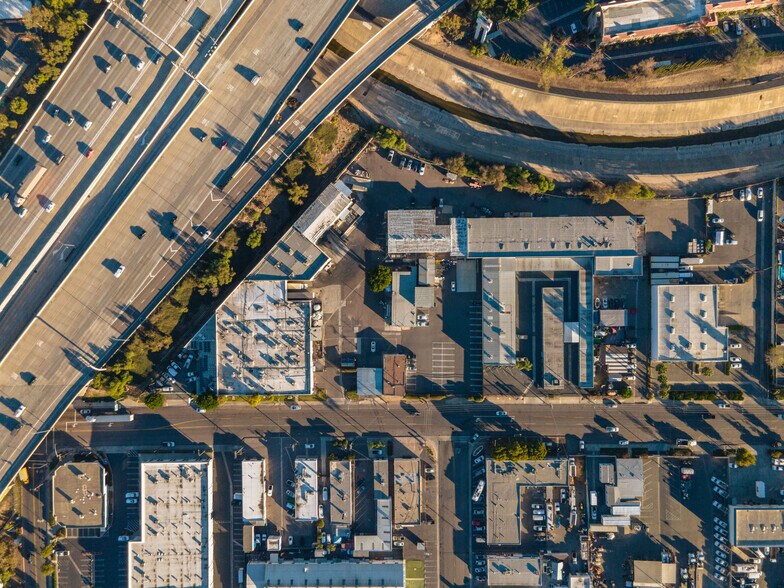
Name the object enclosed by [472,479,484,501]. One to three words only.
vehicle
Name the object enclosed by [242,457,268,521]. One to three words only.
building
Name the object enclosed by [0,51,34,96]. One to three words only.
house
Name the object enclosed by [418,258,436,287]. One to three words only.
shed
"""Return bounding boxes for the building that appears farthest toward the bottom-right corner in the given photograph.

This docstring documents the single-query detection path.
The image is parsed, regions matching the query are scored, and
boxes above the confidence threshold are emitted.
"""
[726,503,784,547]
